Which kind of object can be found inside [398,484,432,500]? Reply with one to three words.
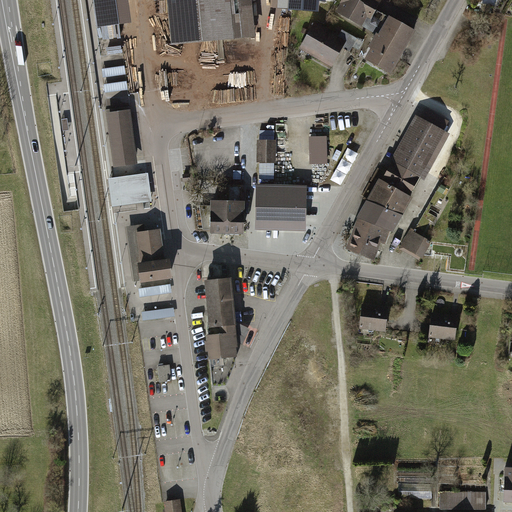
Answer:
greenhouse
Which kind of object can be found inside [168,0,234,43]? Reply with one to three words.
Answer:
building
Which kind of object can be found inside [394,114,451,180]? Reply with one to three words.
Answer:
barn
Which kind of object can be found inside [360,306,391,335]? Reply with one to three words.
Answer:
house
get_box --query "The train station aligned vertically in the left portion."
[47,0,126,288]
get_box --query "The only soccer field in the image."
[475,14,512,274]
